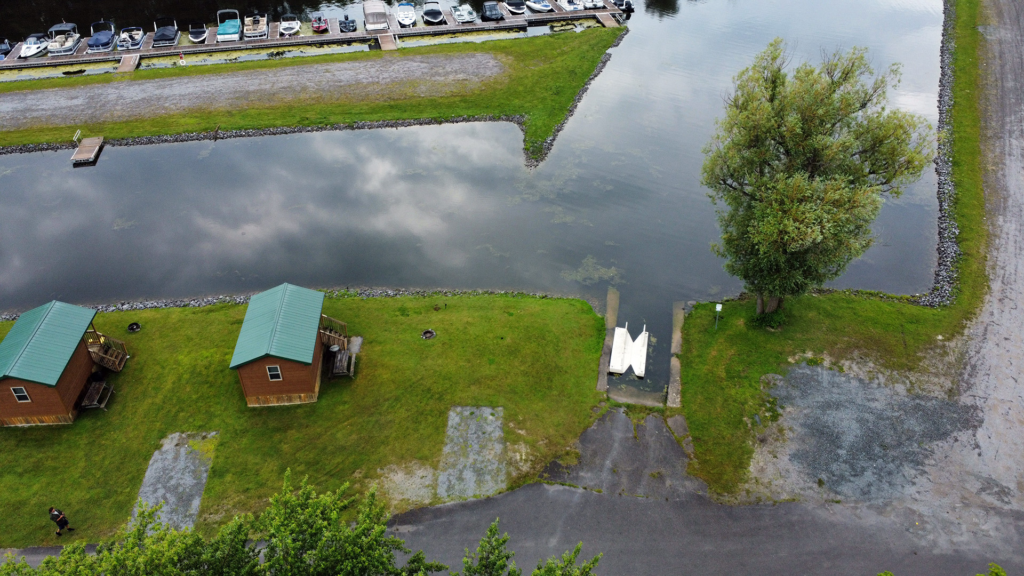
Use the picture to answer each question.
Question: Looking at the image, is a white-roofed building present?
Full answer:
No, there appears to be no white-roofed building in this shot.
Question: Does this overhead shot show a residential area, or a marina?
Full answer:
The area seen from above is a marina.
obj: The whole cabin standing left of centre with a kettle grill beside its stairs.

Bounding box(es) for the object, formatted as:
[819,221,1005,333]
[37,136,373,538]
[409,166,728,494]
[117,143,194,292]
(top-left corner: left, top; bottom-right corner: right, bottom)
[230,282,351,407]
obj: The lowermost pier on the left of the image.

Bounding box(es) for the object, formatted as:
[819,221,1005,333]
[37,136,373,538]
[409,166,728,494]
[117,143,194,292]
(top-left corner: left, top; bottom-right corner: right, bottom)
[71,128,102,164]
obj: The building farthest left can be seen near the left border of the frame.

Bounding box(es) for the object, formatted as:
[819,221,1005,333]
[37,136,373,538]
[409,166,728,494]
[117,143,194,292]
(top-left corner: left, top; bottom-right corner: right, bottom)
[0,300,131,429]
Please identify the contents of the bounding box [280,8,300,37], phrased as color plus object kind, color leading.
white boat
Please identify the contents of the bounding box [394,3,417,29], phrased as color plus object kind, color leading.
white boat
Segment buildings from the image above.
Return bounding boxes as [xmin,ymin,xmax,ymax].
[0,300,131,429]
[230,282,351,407]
